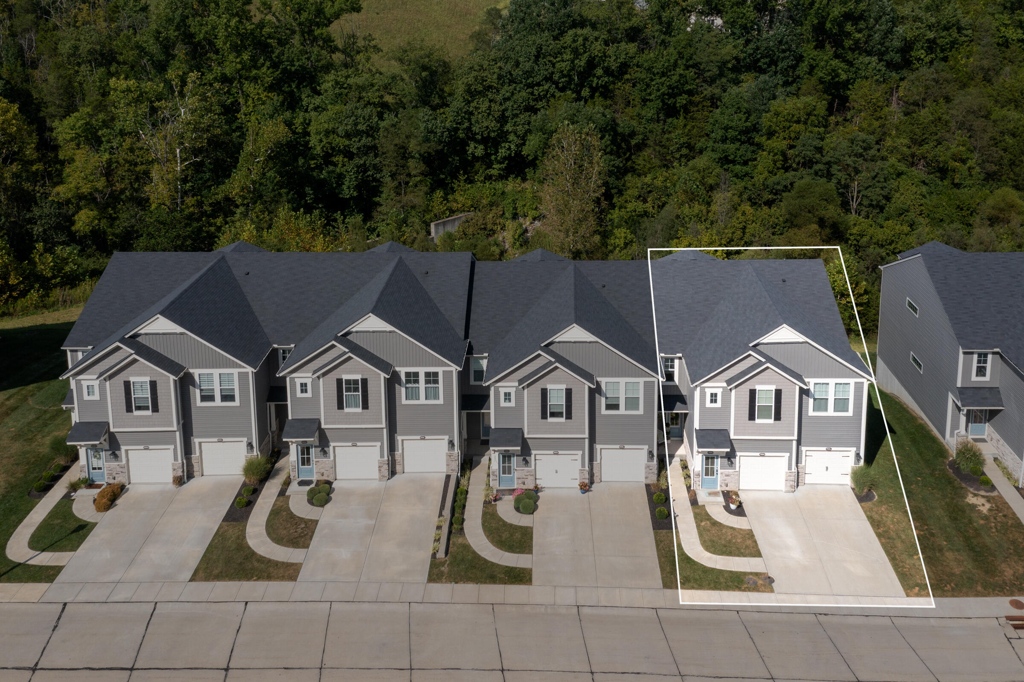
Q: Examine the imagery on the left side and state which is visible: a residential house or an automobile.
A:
residential house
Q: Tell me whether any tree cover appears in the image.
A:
Yes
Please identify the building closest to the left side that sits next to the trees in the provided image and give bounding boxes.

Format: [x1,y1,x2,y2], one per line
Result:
[61,241,294,501]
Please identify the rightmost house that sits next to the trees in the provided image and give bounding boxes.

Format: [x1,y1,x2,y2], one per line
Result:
[884,240,1024,495]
